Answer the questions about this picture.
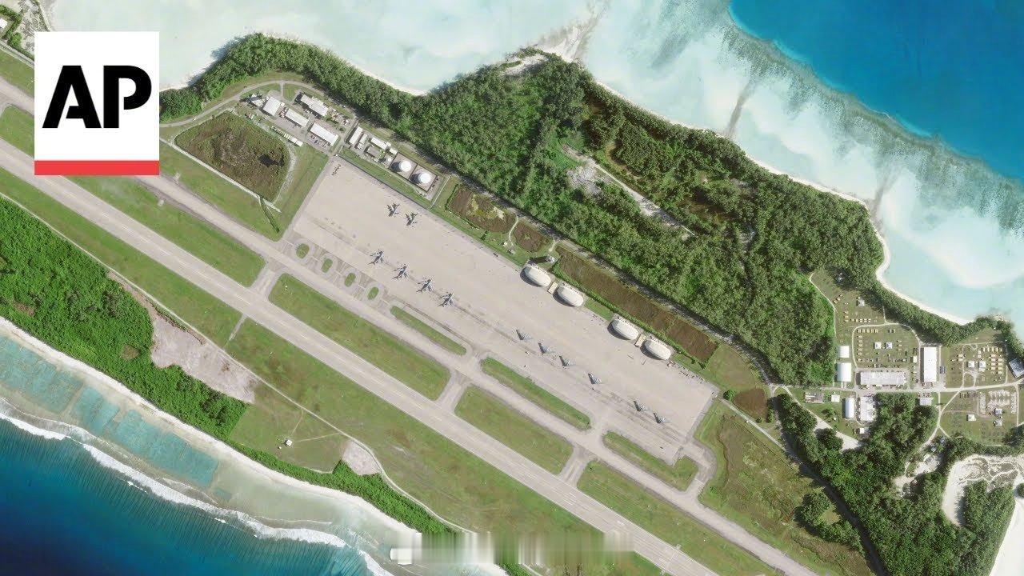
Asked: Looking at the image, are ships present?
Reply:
No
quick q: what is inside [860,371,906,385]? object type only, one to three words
building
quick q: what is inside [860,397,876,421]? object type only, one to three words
building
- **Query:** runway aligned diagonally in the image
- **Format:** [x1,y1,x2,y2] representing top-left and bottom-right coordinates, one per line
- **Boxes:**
[0,139,716,576]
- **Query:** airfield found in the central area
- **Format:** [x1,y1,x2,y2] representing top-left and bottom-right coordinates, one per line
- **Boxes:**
[0,74,823,576]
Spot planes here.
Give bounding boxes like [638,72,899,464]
[440,293,453,307]
[654,411,672,423]
[516,328,535,340]
[559,354,578,366]
[387,202,401,217]
[418,279,432,293]
[588,372,607,384]
[395,265,408,280]
[634,399,652,411]
[406,212,420,227]
[370,251,383,265]
[538,341,557,353]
